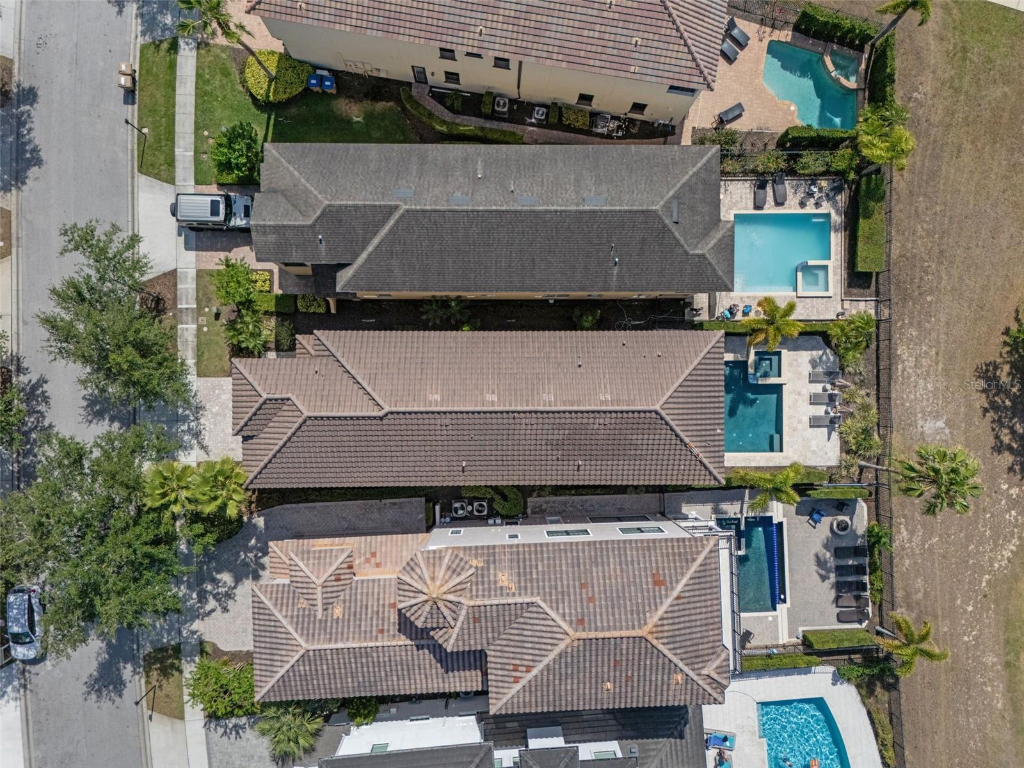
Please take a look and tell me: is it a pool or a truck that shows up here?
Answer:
pool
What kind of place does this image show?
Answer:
residential area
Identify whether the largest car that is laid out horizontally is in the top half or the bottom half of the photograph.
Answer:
top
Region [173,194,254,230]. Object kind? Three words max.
car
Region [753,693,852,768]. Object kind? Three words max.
swimming pool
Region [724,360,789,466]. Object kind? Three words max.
swimming pool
